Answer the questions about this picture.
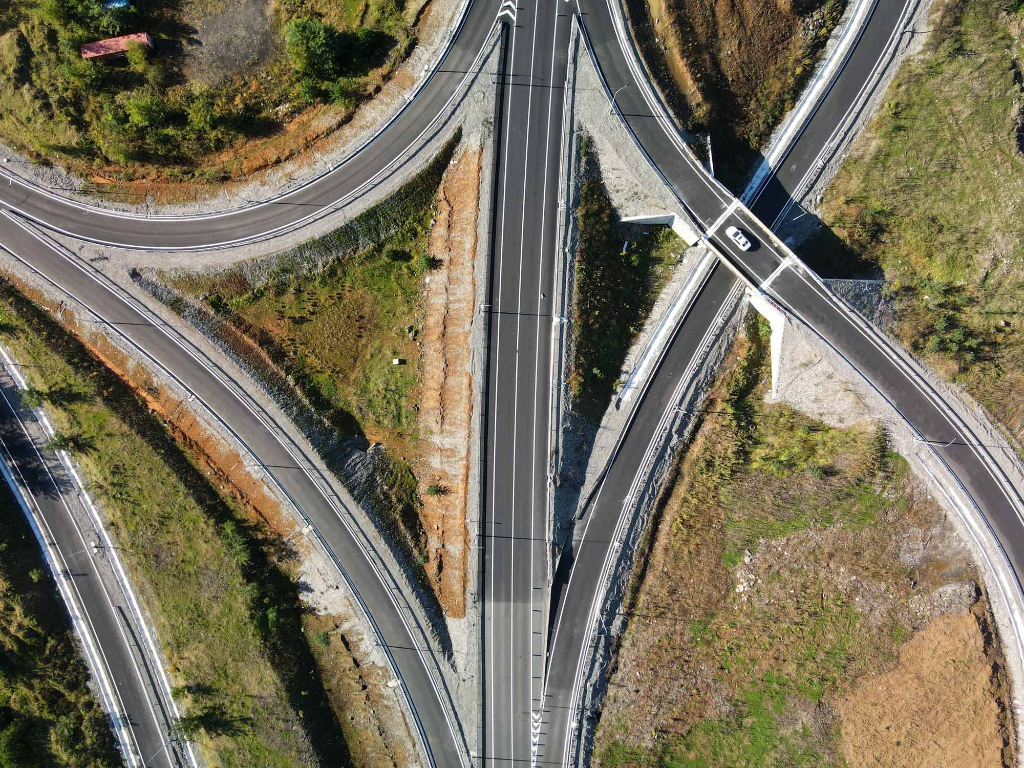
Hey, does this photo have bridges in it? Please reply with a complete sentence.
Yes, the image includes a bridge.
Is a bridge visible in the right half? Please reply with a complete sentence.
Yes, a bridge appears in the right half.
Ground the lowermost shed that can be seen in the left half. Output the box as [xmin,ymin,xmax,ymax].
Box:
[81,33,155,64]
